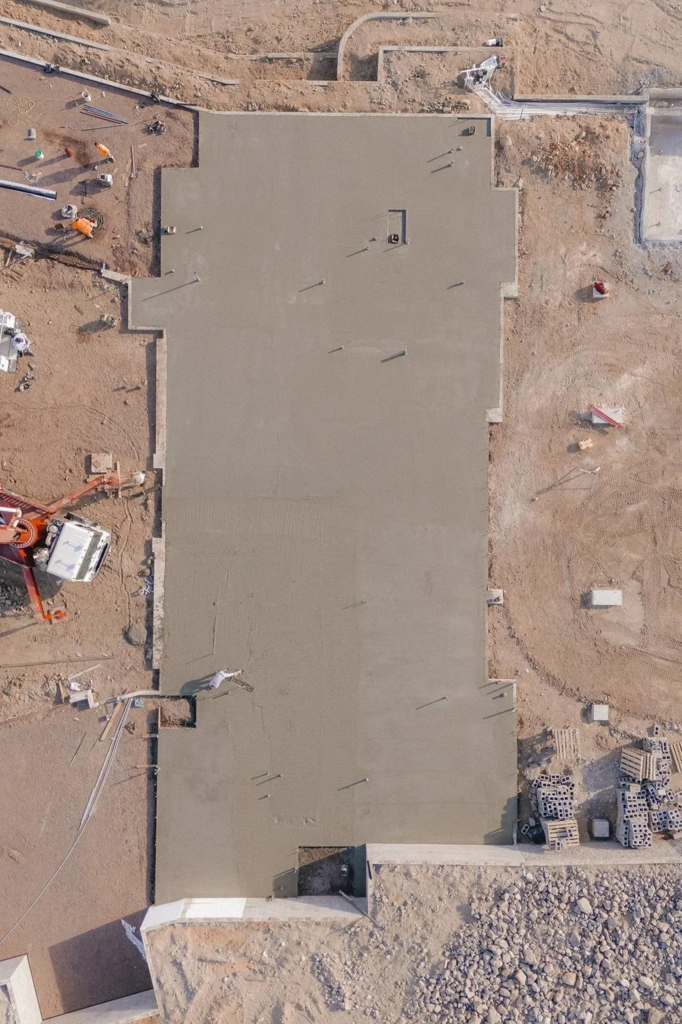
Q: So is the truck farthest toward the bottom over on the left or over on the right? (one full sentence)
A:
The truck farthest toward the bottom appears in the left half of the scene.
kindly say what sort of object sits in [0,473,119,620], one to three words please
truck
